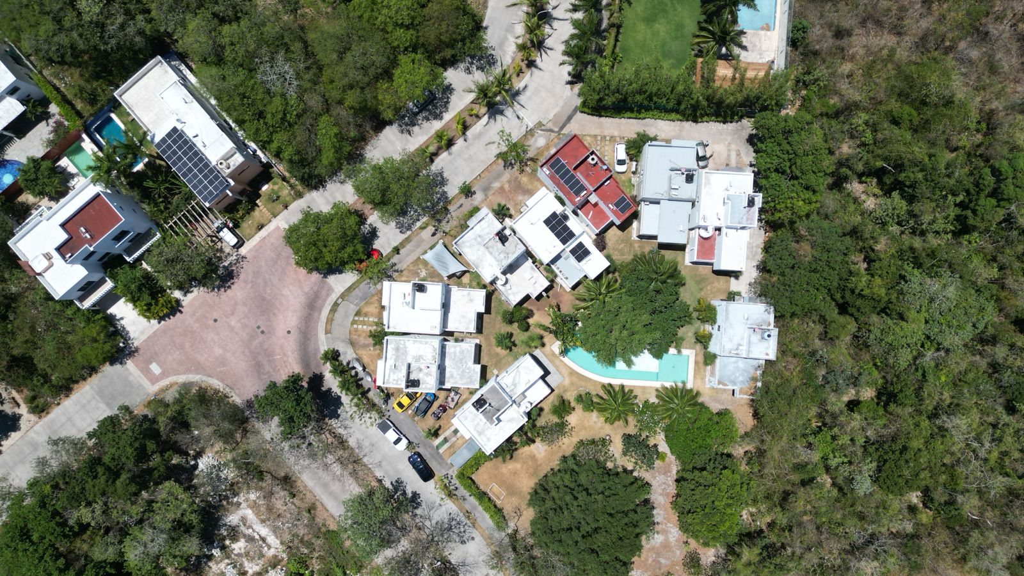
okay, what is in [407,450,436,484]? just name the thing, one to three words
car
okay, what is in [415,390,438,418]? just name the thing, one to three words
car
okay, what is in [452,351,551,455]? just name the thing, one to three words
house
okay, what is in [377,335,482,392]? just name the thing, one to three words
house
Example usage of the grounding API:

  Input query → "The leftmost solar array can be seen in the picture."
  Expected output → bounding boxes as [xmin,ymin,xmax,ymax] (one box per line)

[155,127,226,202]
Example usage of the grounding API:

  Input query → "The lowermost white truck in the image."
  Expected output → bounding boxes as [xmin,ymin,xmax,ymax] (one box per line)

[375,418,410,451]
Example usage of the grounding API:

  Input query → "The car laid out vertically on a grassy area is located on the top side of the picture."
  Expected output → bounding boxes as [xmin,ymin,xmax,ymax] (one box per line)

[613,142,628,174]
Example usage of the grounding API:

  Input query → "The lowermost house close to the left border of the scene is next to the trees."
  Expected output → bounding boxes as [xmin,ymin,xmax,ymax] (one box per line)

[8,174,161,309]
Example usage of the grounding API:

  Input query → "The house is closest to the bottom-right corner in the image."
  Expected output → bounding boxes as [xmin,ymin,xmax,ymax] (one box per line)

[707,301,778,399]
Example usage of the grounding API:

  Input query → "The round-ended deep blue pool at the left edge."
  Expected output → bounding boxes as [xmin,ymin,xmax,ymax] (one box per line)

[0,157,21,191]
